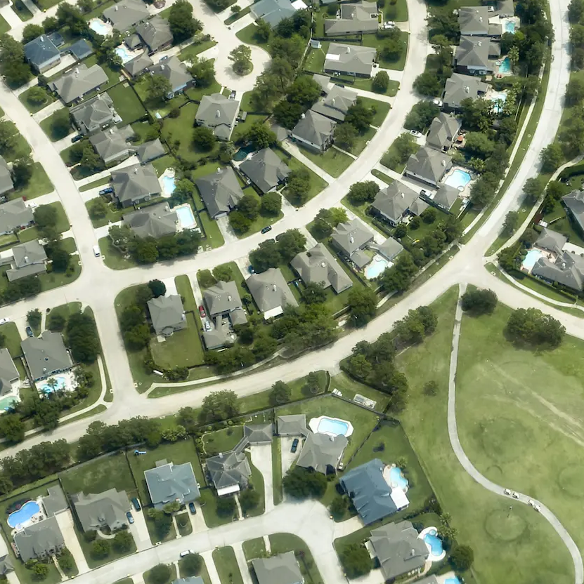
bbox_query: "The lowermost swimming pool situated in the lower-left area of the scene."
[5,497,47,532]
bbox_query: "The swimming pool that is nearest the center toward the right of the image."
[364,255,392,280]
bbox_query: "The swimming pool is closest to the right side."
[523,246,554,271]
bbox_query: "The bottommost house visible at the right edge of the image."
[535,250,584,289]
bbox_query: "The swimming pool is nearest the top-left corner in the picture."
[91,18,114,37]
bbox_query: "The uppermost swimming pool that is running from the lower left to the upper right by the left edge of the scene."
[0,381,21,413]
